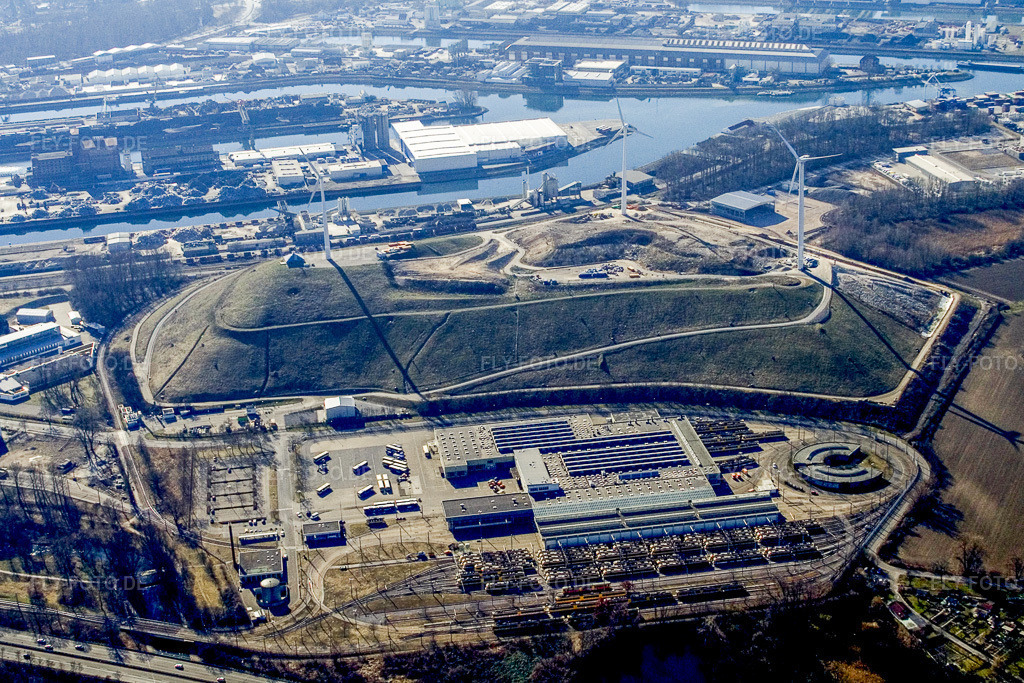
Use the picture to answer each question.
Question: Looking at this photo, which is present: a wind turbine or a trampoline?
wind turbine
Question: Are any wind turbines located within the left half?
Yes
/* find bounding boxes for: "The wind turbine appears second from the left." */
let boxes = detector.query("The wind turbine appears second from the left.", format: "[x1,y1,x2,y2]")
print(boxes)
[604,99,650,214]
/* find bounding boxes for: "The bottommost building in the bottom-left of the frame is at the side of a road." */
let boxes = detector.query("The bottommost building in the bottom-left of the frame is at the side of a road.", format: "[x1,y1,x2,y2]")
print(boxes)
[239,548,284,589]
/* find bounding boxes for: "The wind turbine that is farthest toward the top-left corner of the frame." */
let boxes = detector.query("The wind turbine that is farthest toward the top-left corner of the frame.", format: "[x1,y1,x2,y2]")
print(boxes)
[299,151,354,262]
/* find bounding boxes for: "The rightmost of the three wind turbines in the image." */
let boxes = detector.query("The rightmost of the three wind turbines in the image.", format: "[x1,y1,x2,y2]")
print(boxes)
[777,122,848,269]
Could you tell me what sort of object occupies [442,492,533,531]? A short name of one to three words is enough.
shed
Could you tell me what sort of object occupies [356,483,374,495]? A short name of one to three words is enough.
vehicle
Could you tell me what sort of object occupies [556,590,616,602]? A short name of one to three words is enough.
train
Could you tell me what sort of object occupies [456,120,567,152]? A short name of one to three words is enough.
building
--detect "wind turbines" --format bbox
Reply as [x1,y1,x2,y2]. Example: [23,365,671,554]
[777,122,848,269]
[299,151,354,262]
[604,99,650,214]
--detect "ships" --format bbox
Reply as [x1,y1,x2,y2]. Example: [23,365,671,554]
[955,59,1023,71]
